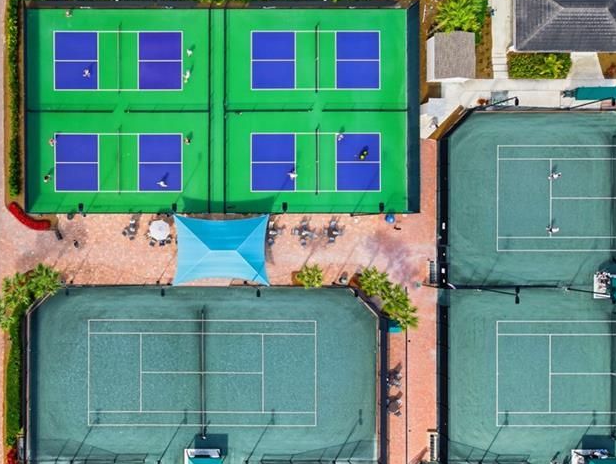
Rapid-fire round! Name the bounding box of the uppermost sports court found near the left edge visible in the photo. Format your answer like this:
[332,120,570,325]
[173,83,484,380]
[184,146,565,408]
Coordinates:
[27,8,217,111]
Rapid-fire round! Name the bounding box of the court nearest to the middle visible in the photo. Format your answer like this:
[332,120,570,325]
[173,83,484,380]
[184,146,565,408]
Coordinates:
[217,111,407,212]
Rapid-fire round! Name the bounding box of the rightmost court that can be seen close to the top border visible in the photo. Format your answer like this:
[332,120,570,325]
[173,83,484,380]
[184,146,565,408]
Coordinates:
[217,8,407,111]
